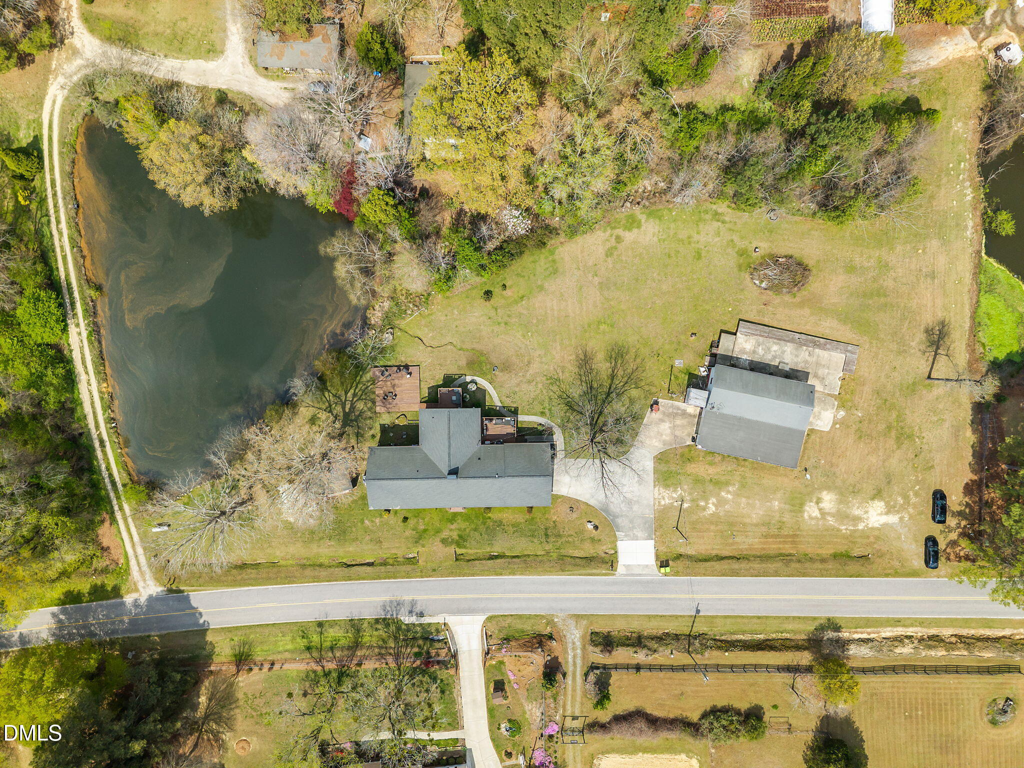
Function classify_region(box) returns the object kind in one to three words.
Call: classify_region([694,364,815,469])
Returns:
building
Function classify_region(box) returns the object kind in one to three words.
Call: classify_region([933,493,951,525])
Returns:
car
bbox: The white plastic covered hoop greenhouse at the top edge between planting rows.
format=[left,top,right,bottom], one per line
[861,0,895,34]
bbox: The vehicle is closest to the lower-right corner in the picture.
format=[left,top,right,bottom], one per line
[925,538,941,570]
